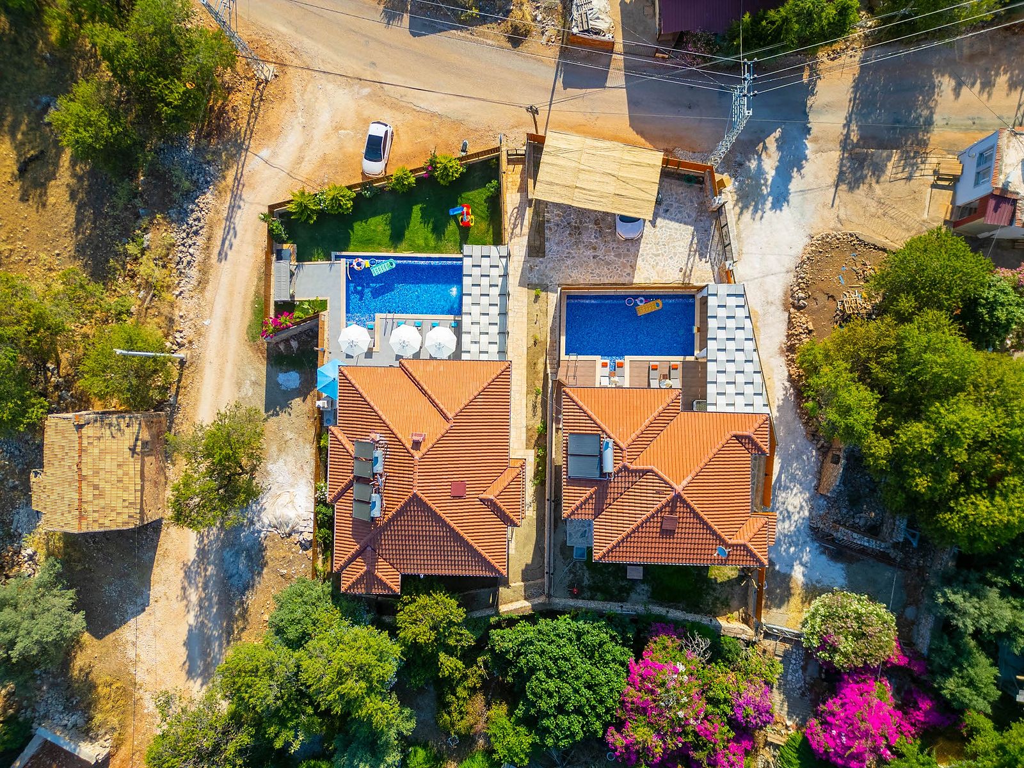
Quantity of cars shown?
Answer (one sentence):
Altogether the scene contains 2 cars.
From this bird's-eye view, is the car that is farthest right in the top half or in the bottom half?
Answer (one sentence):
It is in the top half that the car that is farthest right appears.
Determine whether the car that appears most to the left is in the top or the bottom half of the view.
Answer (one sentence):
Seen from above, the car that appears most to the left lies in the top half of the view.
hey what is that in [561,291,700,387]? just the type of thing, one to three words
swimming pool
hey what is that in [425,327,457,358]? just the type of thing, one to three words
umbrella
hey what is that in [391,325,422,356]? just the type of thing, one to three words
umbrella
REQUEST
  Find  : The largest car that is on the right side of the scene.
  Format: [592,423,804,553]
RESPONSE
[617,214,646,240]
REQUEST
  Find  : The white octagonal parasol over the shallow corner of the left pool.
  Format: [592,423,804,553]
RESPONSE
[341,324,372,355]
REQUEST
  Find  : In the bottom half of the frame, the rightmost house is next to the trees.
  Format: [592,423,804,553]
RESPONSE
[560,387,778,568]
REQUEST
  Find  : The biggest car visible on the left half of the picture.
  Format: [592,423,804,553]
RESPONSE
[357,118,390,179]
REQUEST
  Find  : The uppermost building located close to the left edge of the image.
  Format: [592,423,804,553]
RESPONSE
[29,415,167,534]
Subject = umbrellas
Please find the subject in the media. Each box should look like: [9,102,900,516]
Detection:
[425,327,457,358]
[391,325,422,356]
[318,359,346,400]
[341,324,372,355]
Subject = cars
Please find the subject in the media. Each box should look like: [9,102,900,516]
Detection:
[617,214,646,240]
[357,118,390,179]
